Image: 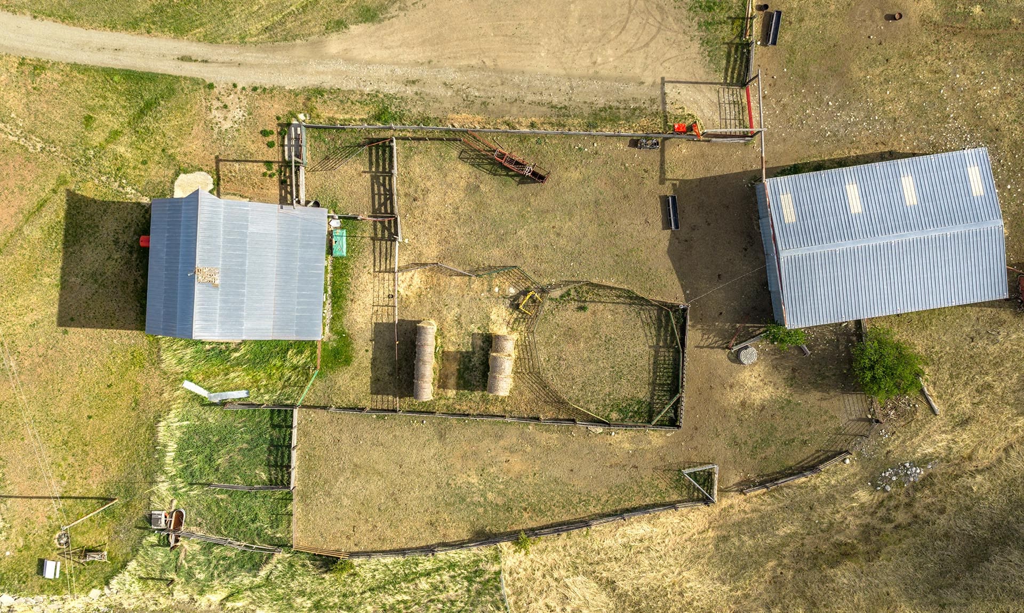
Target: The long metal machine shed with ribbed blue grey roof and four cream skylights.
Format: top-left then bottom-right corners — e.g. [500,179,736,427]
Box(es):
[755,148,1008,328]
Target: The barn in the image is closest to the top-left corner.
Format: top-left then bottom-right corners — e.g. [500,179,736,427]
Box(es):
[146,184,334,341]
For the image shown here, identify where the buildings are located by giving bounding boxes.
[146,184,334,341]
[755,148,1008,328]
